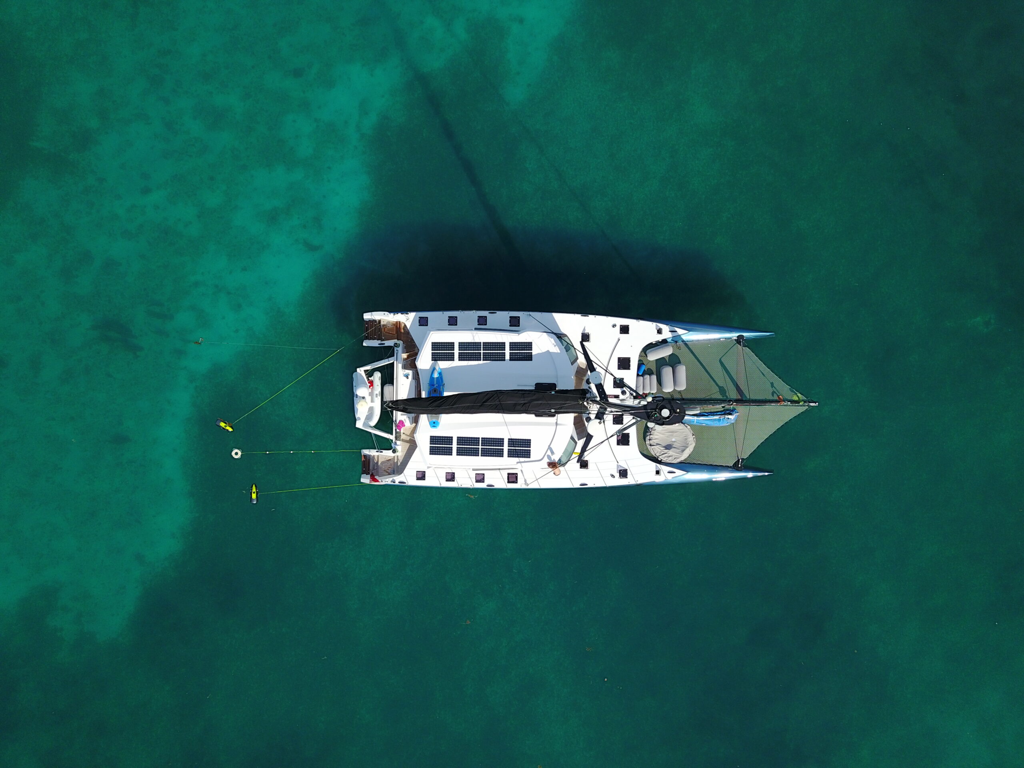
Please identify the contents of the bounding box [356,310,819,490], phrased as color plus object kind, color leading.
white boat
